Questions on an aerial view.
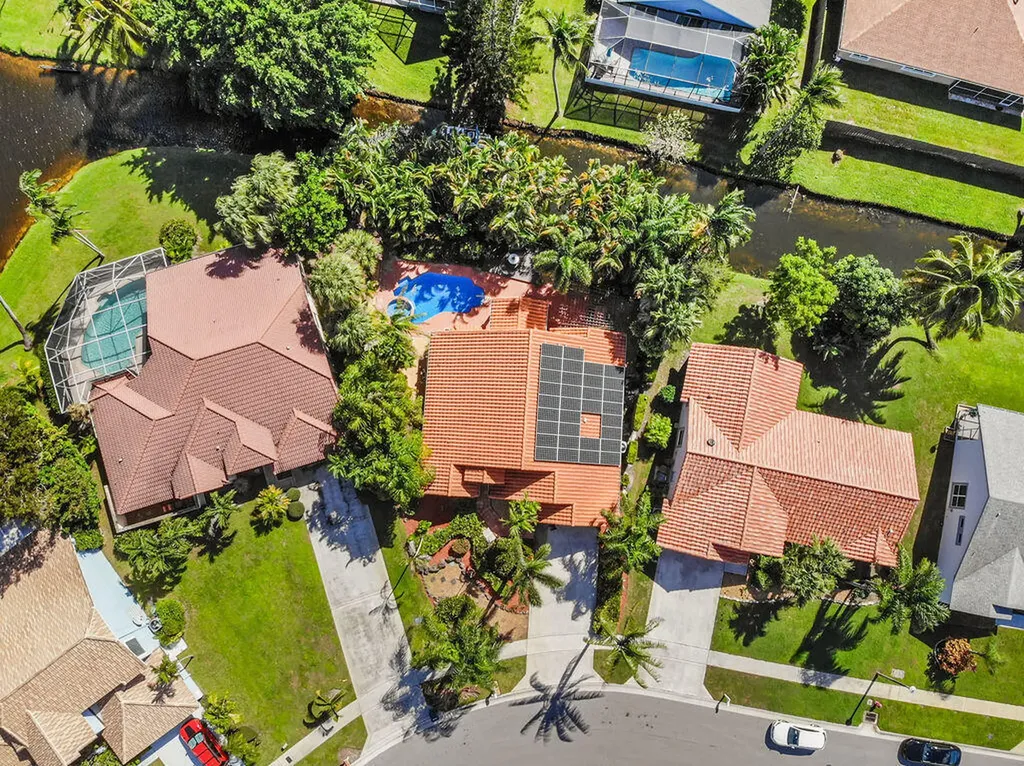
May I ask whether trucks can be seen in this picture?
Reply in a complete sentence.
No, there is no truck in the image.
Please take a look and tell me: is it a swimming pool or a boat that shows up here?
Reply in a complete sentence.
Of the two, only a swimming pool appears.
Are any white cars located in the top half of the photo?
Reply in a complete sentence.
No, the scene shows no white car in the top half of the photo.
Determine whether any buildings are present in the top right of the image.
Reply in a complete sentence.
Yes, the scene does show a building in the top right of the image.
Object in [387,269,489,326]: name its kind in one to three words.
swimming pool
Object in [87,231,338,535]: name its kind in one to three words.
house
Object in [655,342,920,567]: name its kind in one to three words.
house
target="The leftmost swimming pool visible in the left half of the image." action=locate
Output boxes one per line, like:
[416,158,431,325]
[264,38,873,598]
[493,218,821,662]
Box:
[79,273,148,379]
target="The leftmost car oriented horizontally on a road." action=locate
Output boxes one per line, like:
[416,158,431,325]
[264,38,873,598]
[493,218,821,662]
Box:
[770,723,830,757]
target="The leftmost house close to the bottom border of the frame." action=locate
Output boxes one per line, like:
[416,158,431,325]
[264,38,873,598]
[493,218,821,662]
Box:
[0,531,204,766]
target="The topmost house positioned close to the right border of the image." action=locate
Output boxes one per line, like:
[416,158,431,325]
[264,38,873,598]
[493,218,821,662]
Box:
[838,0,1024,99]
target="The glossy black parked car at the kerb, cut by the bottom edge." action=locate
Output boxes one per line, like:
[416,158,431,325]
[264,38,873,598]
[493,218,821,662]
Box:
[901,738,967,766]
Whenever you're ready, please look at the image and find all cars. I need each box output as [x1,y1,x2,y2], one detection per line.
[901,738,967,766]
[180,717,226,766]
[770,723,830,757]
